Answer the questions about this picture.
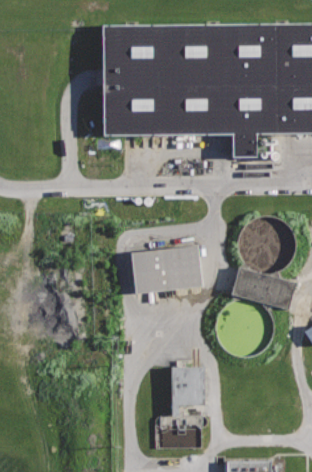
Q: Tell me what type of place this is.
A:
industrial area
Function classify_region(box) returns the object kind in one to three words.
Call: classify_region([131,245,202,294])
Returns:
building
